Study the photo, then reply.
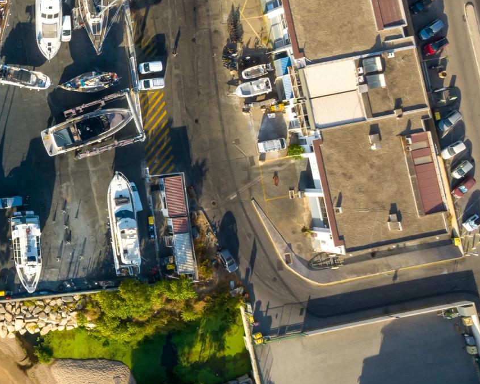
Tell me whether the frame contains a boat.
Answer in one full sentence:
Yes, the picture does show a boat.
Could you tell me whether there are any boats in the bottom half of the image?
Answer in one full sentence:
Yes, you'll find a boat in the bottom half of the image.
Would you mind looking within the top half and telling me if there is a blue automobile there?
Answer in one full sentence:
Yes, there is a blue automobile within the top half.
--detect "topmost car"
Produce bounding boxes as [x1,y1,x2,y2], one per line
[408,0,433,15]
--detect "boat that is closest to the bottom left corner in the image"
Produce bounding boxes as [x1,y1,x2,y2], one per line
[11,211,44,295]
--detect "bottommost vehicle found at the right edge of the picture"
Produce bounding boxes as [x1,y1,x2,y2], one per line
[461,214,480,231]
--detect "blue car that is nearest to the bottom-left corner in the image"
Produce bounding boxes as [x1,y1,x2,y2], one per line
[0,195,24,209]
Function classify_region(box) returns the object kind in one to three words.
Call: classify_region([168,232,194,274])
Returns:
building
